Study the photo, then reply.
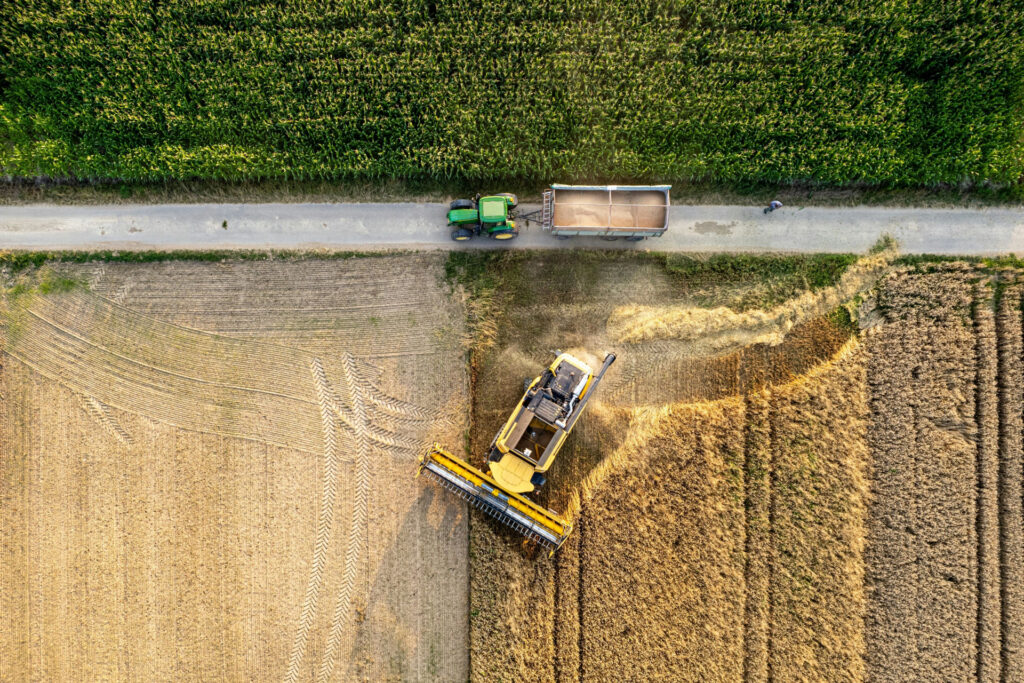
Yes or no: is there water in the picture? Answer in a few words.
No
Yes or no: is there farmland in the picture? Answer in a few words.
Yes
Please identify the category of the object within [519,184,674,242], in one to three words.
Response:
trailer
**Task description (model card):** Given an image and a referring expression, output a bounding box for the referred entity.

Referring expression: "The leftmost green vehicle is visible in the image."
[446,193,523,239]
